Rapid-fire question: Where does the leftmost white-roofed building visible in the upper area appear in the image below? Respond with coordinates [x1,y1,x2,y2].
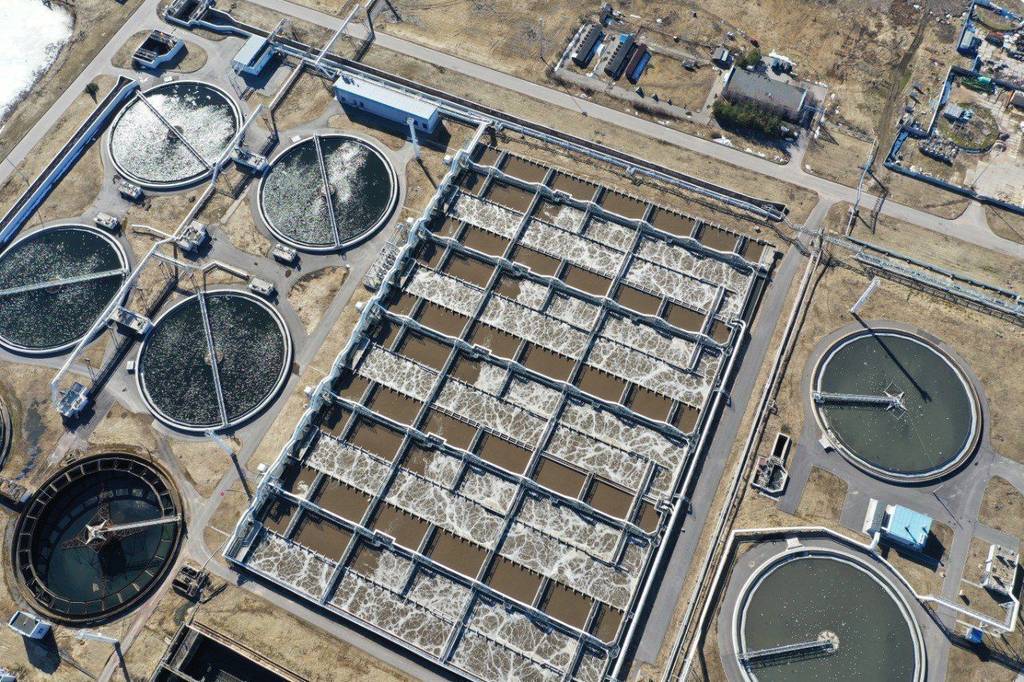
[222,34,278,79]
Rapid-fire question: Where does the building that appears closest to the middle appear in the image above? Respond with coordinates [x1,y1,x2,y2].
[363,217,408,293]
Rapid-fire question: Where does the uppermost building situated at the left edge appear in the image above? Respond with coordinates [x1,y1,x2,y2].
[8,611,50,637]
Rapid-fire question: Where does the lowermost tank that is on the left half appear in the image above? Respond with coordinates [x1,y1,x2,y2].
[12,454,189,623]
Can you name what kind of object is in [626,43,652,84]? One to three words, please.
shed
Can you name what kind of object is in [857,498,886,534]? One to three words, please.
house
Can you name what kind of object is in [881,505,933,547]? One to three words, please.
house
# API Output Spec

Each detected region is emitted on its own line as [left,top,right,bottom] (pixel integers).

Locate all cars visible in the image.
[681,56,699,68]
